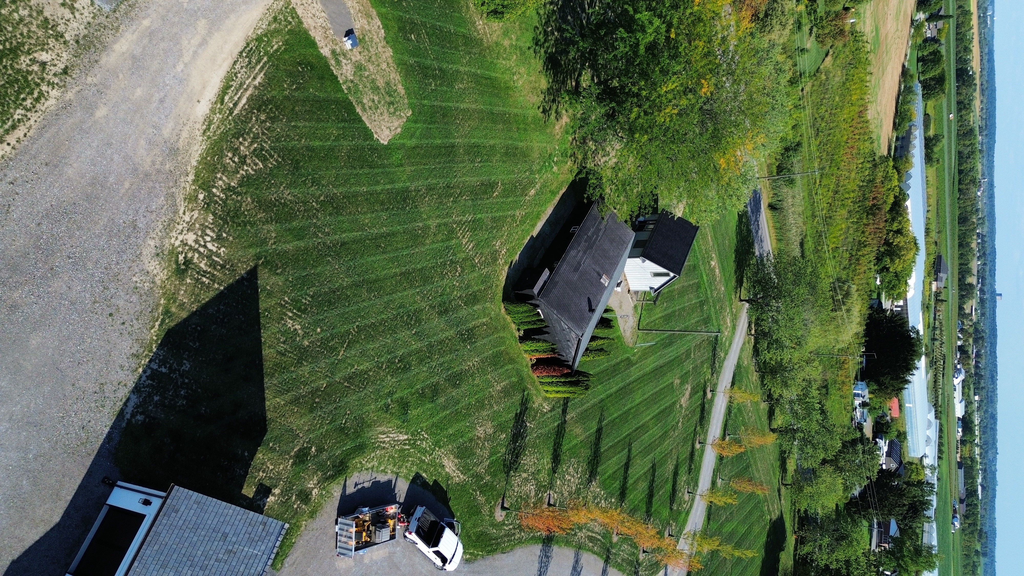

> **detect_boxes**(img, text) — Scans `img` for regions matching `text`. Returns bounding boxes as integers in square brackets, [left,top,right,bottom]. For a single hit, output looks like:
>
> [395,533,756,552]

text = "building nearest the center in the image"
[506,197,636,373]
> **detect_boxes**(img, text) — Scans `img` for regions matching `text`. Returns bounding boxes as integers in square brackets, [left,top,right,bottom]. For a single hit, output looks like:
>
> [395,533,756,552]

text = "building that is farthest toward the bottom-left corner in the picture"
[54,480,278,576]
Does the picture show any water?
No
